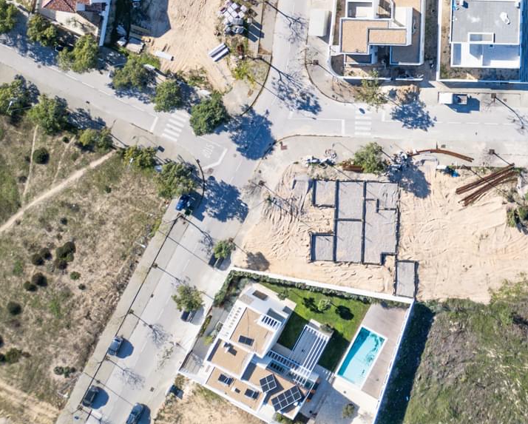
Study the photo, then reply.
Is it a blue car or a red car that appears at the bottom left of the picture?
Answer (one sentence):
The one visible at the bottom left of the picture is a blue car.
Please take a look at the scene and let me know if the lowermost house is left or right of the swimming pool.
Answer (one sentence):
Relative to the swimming pool, the lowermost house lies to the left.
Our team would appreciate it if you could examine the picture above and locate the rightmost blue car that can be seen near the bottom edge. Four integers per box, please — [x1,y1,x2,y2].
[128,402,147,424]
